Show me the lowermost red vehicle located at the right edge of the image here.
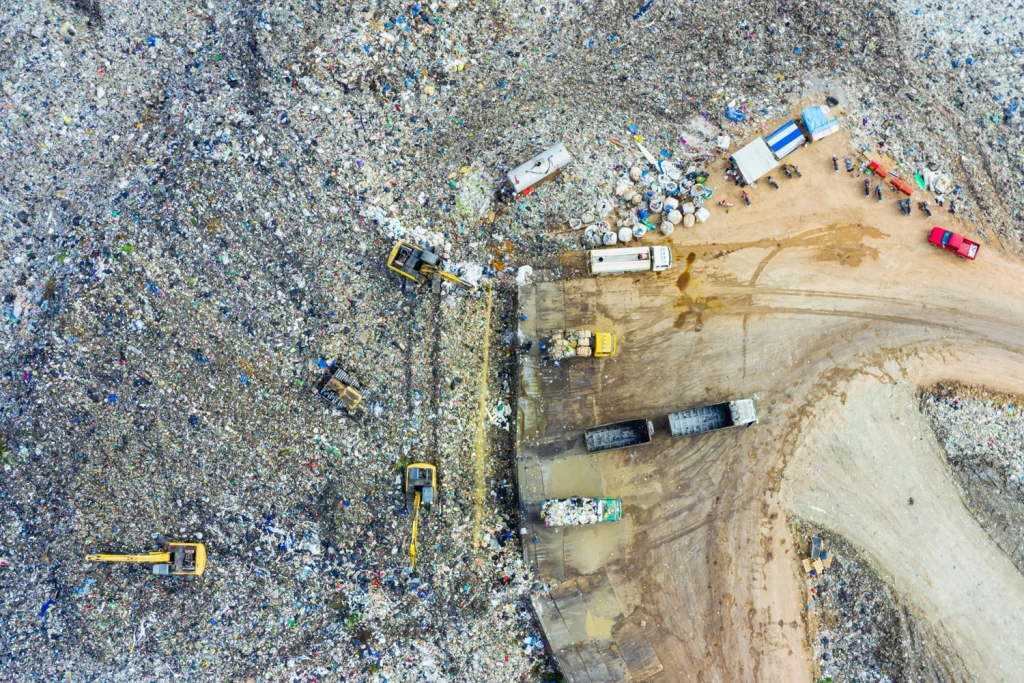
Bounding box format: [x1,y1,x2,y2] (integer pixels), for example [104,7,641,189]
[923,226,981,260]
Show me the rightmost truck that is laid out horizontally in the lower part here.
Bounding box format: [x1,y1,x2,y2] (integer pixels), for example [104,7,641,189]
[665,396,757,437]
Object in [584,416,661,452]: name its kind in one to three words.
trailer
